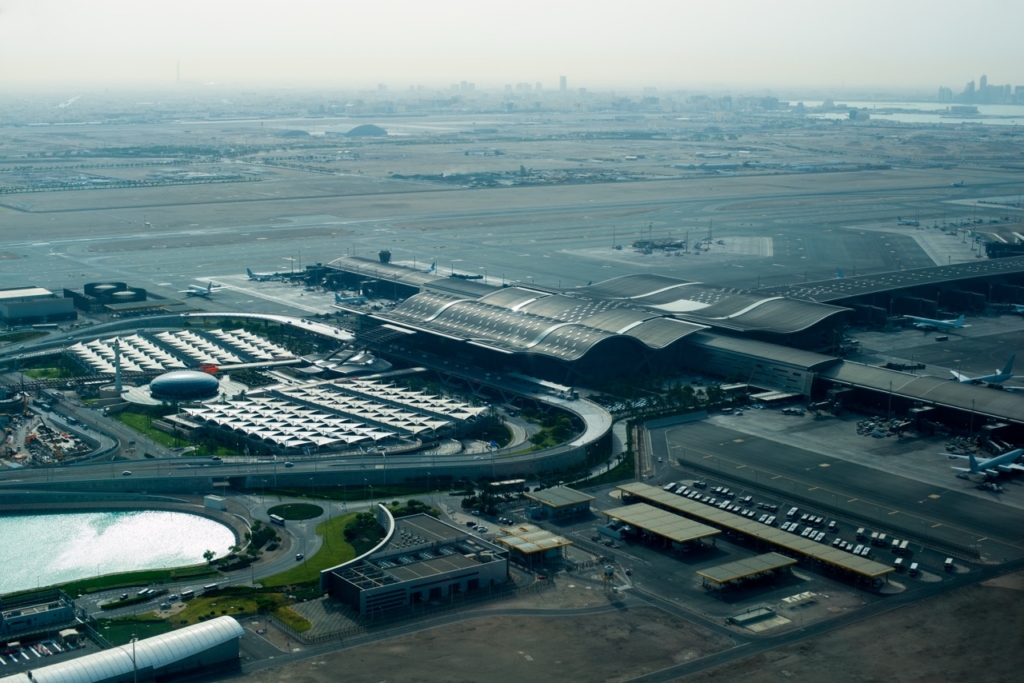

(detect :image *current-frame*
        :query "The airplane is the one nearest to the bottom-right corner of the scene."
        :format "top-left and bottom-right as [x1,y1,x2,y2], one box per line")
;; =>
[939,445,1024,470]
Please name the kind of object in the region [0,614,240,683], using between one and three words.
building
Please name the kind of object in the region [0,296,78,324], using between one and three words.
building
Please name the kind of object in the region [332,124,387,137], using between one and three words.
hangar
